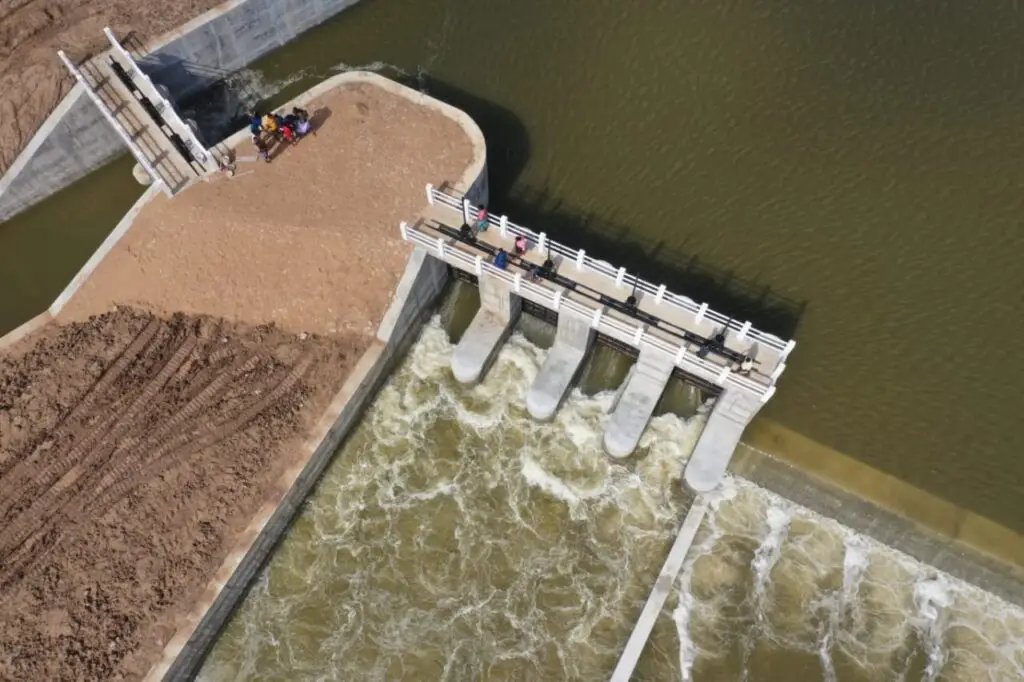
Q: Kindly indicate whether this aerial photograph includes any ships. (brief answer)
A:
No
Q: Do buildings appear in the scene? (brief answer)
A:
No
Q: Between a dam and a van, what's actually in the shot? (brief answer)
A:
dam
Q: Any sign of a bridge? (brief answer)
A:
Yes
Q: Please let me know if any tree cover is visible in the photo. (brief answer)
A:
No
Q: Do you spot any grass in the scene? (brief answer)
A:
No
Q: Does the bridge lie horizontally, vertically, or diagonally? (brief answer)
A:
diagonally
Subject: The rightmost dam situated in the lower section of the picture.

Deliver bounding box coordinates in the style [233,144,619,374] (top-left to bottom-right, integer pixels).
[728,445,1024,608]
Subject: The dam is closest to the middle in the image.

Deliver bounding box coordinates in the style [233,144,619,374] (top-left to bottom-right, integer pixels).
[399,180,798,498]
